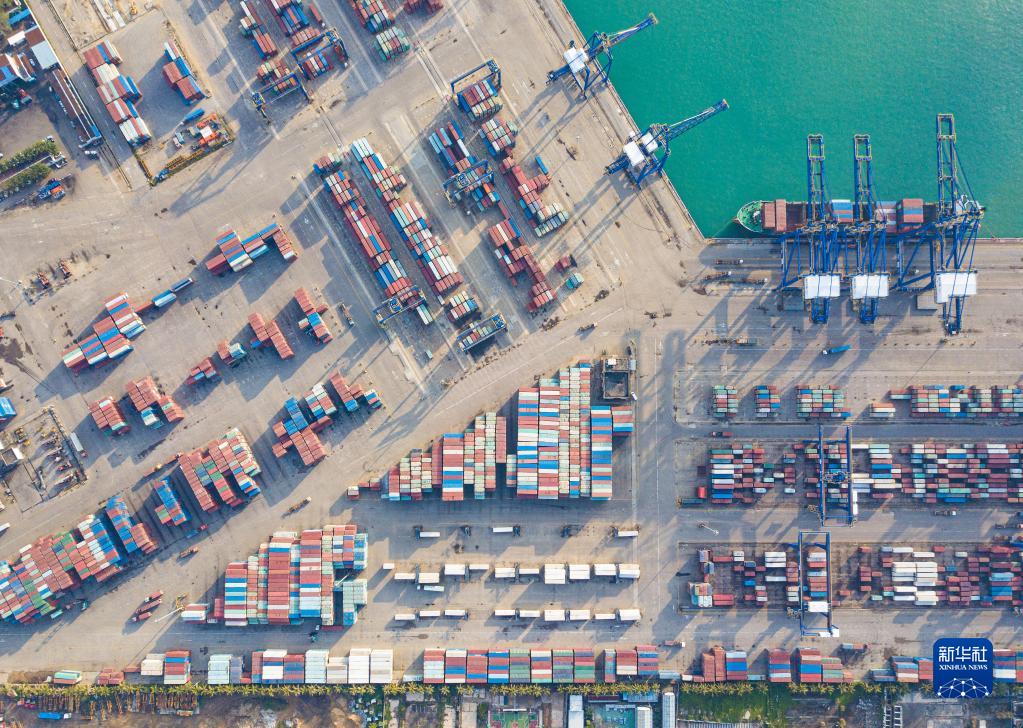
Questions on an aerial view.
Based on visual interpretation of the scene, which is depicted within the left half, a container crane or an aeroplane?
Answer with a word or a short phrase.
container crane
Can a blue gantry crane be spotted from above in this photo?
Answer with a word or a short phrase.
Yes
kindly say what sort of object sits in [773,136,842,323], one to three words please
container crane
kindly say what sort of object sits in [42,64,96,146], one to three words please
building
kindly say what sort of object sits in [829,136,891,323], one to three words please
container crane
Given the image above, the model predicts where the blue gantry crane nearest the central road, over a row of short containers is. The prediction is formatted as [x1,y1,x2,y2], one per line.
[459,315,506,354]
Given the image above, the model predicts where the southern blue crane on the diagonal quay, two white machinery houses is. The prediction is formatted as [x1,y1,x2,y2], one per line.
[603,97,732,194]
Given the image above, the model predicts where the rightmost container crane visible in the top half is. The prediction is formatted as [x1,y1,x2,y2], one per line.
[893,115,987,334]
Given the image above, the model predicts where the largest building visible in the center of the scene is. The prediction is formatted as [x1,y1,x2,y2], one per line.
[602,358,631,398]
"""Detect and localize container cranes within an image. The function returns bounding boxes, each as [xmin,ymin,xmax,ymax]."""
[257,73,313,122]
[544,12,660,104]
[453,60,499,111]
[773,136,842,323]
[603,97,732,194]
[291,31,344,82]
[829,136,891,323]
[893,115,987,334]
[800,426,856,530]
[780,534,844,642]
[459,315,506,354]
[377,291,426,330]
